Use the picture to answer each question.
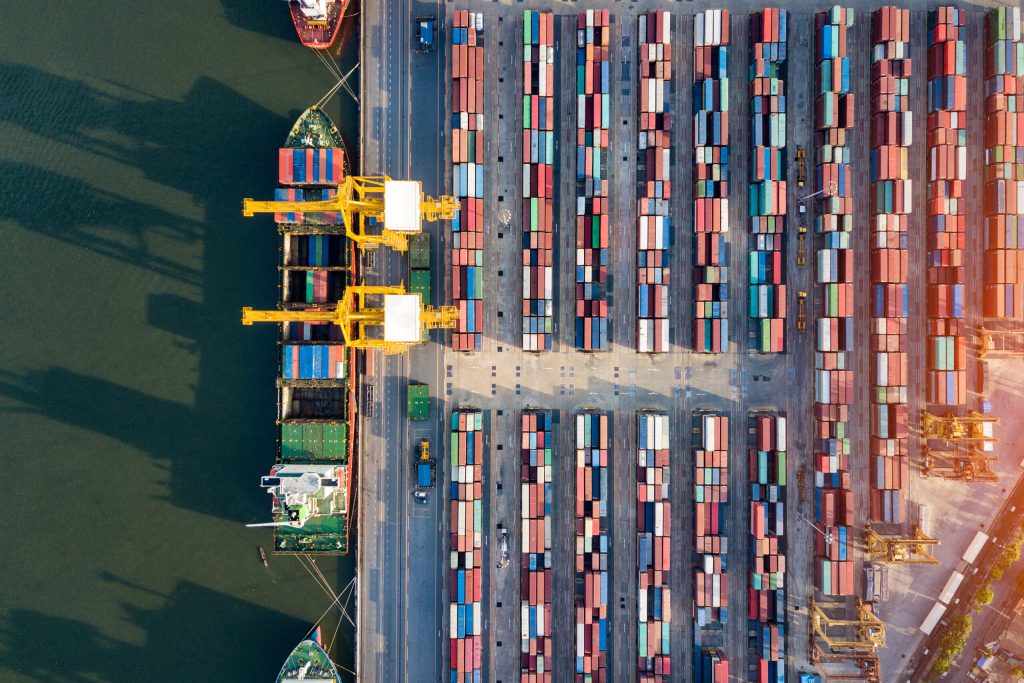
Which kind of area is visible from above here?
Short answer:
port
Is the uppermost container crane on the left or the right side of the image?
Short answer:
left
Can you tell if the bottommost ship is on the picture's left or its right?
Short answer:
left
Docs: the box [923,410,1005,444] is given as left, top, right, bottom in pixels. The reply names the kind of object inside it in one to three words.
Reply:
container crane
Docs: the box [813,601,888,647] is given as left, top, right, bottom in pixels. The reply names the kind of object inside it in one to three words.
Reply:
container crane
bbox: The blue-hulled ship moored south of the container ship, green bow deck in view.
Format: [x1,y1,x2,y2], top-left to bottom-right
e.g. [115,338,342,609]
[277,627,342,683]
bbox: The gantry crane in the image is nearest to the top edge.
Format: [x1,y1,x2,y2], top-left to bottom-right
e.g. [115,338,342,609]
[243,174,463,258]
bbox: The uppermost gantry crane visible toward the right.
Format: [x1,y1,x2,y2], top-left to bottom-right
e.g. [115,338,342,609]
[980,327,1024,358]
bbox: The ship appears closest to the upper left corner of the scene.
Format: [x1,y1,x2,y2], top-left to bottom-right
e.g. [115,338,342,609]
[290,0,350,48]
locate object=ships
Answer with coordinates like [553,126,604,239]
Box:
[277,627,342,683]
[246,106,355,554]
[290,0,350,48]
